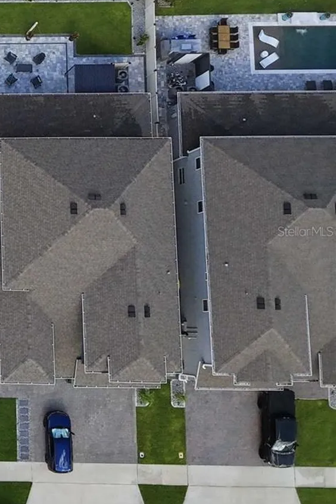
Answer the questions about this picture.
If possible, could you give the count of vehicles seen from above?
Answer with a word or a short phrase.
2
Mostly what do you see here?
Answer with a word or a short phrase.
buildings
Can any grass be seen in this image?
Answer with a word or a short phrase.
Yes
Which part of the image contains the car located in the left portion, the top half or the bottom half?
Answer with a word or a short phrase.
bottom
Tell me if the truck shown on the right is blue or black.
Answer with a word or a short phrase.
black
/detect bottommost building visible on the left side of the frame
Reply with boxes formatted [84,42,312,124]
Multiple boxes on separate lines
[0,90,183,389]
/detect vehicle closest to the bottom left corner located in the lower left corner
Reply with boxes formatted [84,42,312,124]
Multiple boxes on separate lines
[42,409,76,475]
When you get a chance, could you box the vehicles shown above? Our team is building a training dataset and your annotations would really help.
[259,388,299,468]
[42,409,76,475]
